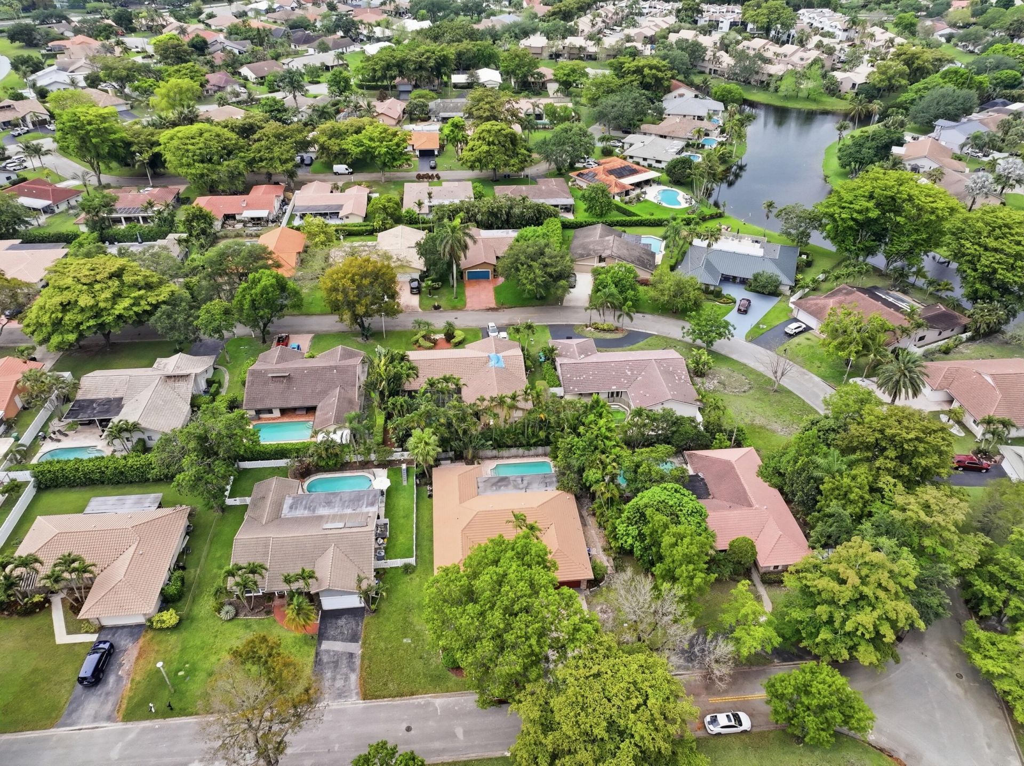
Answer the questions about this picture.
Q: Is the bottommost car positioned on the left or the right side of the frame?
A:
right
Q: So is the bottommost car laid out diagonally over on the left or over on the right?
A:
left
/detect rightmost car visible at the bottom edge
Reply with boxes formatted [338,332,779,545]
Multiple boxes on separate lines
[704,708,755,736]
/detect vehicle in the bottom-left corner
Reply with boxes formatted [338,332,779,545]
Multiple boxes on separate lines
[74,640,112,682]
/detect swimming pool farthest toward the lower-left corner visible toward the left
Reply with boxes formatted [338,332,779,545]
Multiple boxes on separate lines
[32,443,112,464]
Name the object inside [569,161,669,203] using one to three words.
house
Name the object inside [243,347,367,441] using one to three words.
house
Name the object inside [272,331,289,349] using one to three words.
vehicle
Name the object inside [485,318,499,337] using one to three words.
car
